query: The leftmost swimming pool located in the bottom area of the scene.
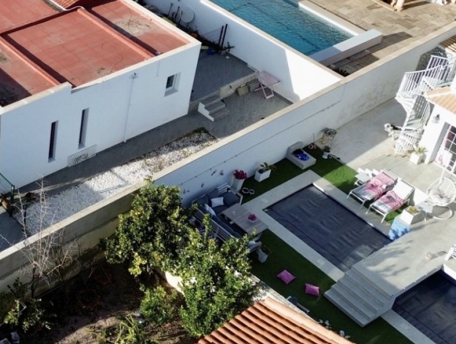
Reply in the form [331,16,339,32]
[227,172,393,290]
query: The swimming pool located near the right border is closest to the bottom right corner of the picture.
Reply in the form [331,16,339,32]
[359,264,456,344]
